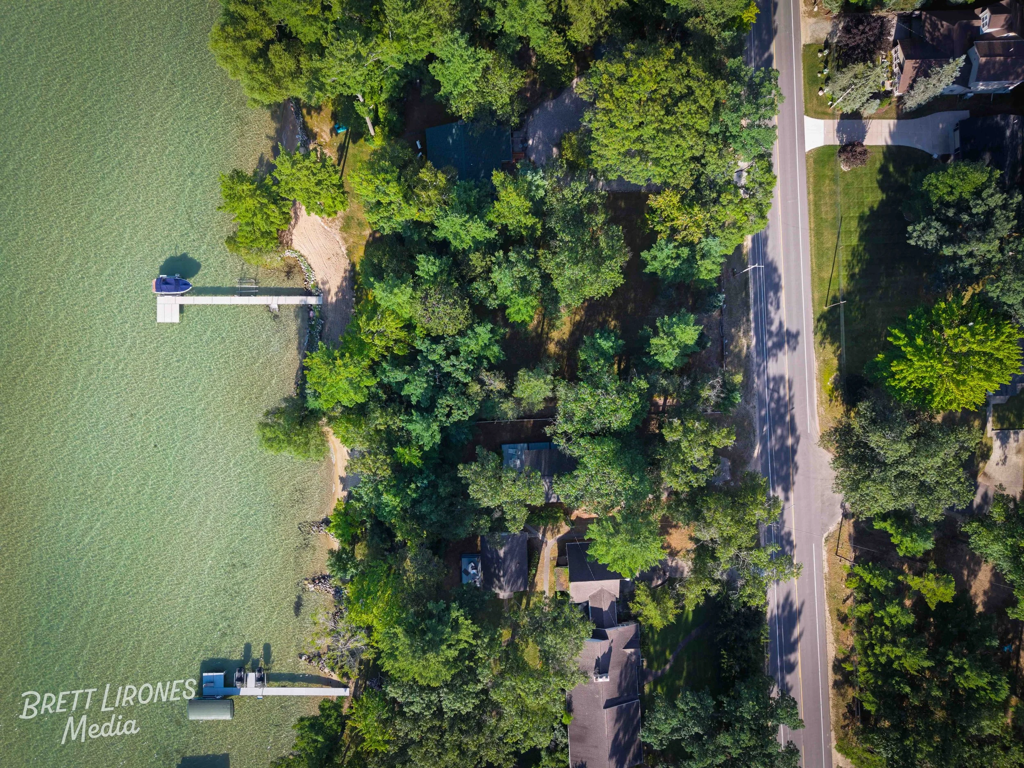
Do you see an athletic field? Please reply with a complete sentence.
No, no athletic field can be seen from above.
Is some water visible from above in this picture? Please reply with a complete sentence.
Yes, the picture does contain water.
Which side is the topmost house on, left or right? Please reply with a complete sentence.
The topmost house sits on the right side.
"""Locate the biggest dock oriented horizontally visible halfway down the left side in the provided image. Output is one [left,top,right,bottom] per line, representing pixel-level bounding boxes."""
[155,295,322,323]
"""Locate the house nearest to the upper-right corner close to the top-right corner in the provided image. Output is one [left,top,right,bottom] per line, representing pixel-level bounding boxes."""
[892,8,1024,96]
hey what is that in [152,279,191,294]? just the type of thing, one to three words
boat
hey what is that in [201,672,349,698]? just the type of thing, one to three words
pier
